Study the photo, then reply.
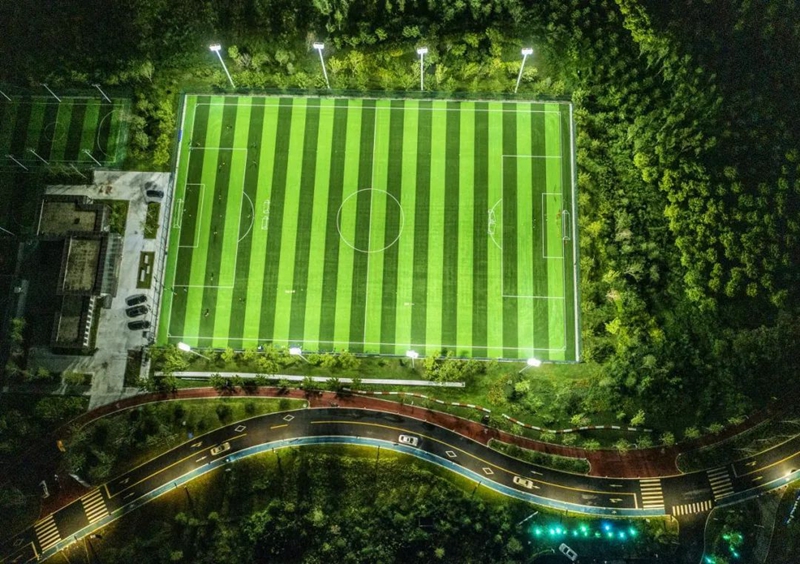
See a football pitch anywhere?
Yes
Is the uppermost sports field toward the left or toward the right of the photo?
left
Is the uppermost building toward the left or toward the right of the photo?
left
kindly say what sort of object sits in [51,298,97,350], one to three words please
building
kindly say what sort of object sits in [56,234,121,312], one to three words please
building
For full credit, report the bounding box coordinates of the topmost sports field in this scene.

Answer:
[0,94,134,170]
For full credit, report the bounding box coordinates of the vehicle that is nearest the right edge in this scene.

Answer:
[559,543,579,561]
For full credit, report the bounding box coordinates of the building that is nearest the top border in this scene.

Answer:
[34,195,109,243]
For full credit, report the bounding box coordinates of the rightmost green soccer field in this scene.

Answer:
[156,94,580,361]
